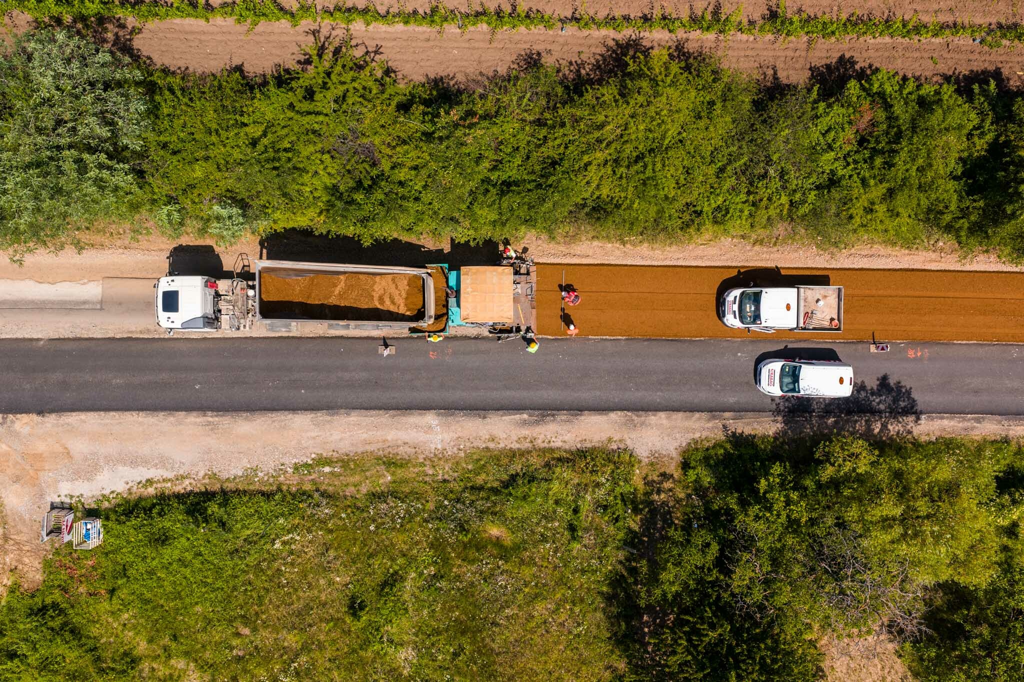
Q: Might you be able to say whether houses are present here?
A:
No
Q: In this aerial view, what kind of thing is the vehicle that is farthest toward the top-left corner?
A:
truck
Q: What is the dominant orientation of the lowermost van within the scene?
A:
from side to side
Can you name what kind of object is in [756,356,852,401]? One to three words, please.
van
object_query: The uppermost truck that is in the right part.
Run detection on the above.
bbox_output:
[719,282,844,336]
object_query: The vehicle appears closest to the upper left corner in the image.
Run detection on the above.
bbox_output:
[156,253,260,334]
